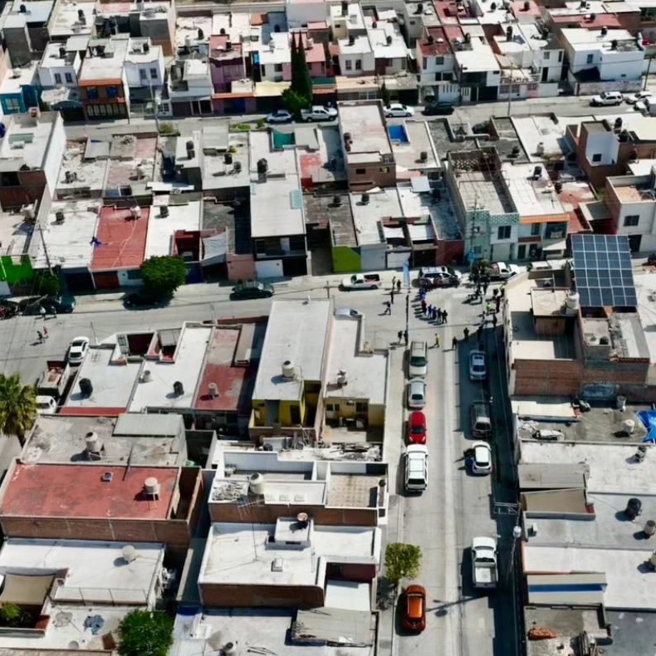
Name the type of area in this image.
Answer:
residential area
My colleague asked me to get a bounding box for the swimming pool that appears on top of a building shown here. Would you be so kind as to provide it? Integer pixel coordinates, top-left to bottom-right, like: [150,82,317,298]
[389,131,404,144]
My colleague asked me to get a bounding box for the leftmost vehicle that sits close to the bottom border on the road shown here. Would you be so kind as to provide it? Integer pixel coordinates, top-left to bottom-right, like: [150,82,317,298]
[402,586,426,634]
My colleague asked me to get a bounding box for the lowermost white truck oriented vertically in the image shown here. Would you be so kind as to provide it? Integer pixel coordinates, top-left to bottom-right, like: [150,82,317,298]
[470,536,497,592]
